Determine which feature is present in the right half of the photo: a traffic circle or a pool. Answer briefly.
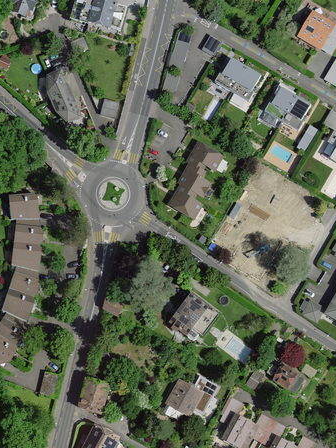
pool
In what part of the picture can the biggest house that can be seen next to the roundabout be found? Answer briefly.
center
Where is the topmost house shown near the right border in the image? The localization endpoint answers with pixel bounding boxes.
[296,10,336,54]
